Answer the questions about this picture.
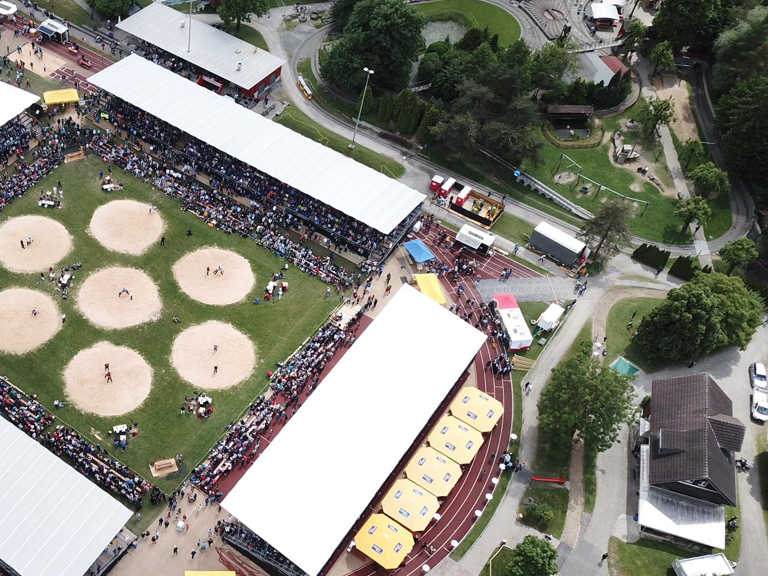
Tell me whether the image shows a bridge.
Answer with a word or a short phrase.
Yes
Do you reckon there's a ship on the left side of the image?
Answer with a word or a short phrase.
No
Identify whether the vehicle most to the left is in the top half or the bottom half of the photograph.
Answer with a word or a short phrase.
top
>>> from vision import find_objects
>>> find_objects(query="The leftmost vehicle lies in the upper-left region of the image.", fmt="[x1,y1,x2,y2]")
[36,23,66,44]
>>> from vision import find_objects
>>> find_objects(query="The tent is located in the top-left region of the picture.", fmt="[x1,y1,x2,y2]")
[44,92,79,110]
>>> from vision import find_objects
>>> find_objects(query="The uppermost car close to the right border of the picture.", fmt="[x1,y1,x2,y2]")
[750,361,768,386]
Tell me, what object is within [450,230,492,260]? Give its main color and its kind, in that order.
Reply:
white van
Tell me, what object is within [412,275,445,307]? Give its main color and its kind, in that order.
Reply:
yellow tent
